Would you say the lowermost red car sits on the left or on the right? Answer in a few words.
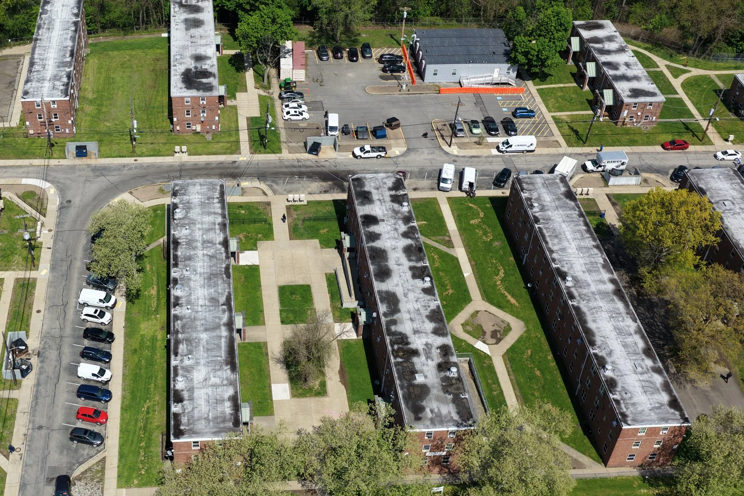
left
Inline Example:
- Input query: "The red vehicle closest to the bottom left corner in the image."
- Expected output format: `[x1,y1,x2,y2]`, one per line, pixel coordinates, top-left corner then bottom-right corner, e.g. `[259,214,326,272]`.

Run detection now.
[74,406,110,426]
